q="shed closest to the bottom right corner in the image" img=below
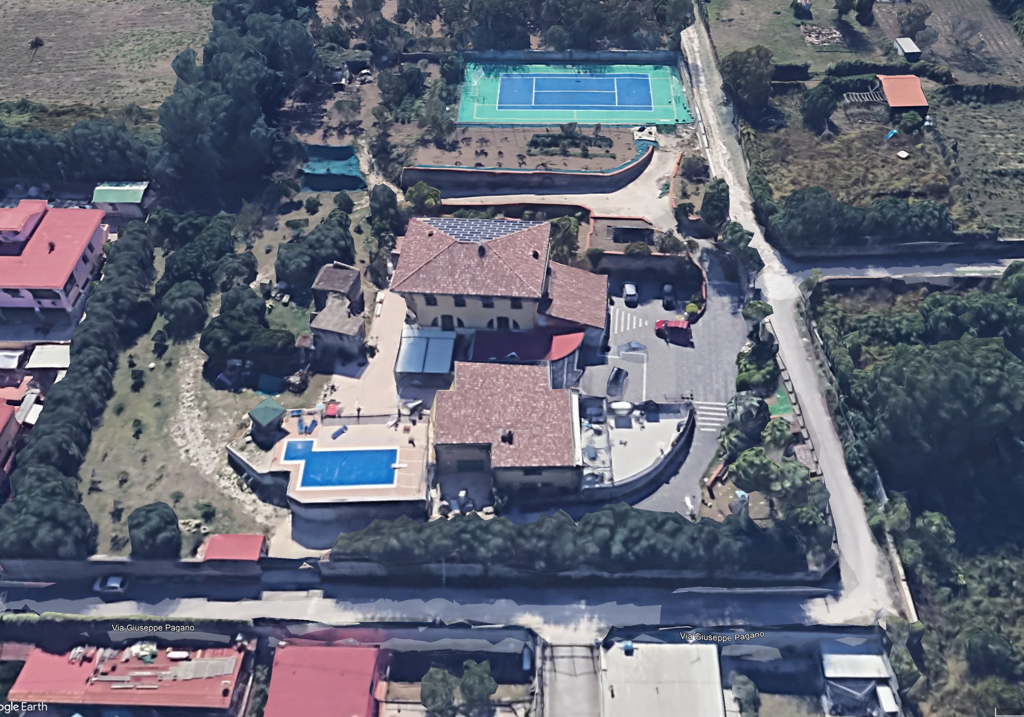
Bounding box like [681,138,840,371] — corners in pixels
[866,686,898,717]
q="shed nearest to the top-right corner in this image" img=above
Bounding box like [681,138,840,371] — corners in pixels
[894,38,921,62]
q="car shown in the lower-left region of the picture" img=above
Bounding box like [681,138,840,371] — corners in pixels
[91,574,133,595]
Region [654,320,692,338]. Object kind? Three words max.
car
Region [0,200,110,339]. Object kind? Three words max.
house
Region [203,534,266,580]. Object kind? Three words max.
shed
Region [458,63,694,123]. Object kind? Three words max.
tennis court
